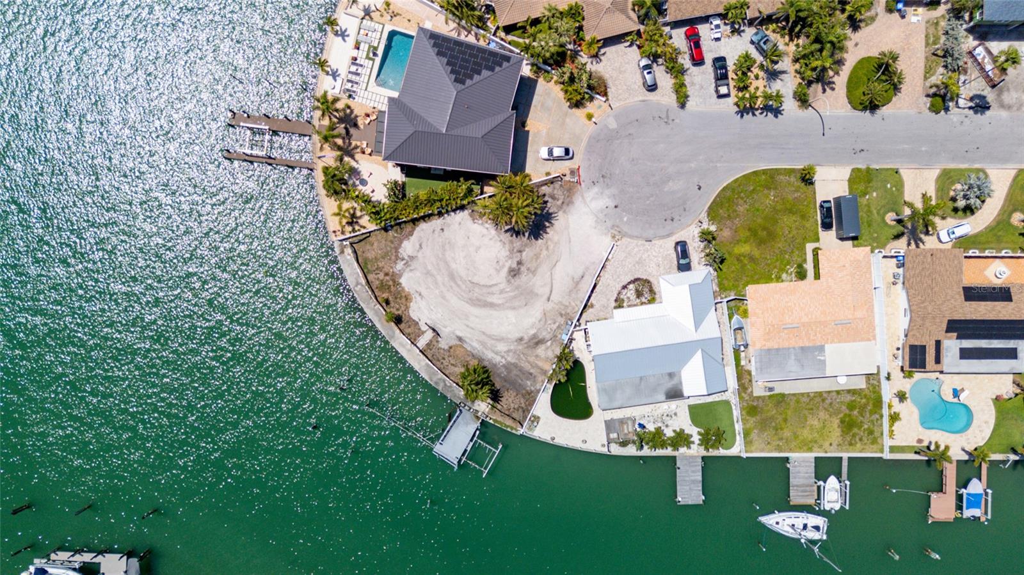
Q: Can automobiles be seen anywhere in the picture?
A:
Yes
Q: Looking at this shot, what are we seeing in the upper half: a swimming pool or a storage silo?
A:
swimming pool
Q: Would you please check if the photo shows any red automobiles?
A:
Yes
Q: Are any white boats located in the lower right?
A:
Yes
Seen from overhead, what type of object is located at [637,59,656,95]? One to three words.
car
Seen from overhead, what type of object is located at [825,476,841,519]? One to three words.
boat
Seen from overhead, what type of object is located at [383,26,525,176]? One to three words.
house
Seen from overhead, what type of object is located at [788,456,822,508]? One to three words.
pier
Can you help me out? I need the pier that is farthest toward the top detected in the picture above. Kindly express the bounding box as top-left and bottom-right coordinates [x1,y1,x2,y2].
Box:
[225,108,313,135]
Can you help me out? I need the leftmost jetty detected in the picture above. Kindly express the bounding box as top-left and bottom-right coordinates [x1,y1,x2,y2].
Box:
[39,548,149,575]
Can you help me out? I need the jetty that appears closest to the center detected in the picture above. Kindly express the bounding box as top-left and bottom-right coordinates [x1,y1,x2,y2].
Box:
[431,407,482,472]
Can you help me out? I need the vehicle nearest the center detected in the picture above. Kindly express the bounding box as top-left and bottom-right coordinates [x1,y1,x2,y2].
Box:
[539,144,574,161]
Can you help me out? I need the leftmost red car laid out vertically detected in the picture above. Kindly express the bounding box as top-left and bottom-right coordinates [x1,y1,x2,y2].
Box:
[684,29,704,68]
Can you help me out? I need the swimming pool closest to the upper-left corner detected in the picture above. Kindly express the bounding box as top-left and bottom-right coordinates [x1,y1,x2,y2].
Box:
[372,26,416,94]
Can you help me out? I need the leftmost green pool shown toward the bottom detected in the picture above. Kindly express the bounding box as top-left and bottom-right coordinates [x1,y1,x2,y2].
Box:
[548,357,595,422]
